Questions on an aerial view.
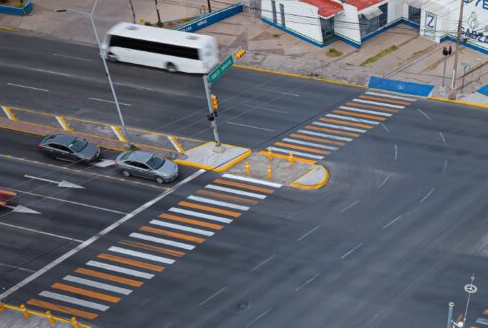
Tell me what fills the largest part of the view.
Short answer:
paved ground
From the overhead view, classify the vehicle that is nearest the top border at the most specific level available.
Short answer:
bus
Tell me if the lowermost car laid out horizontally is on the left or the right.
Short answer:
left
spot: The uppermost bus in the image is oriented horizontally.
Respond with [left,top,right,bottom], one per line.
[94,19,213,73]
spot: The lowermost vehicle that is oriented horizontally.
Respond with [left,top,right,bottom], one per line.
[115,151,179,183]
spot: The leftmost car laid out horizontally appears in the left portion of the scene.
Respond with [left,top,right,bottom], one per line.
[43,133,105,163]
